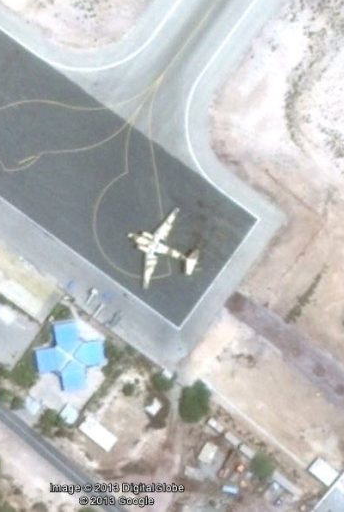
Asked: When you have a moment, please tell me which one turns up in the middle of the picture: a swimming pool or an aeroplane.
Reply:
aeroplane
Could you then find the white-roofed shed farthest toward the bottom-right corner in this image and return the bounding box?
[309,457,340,487]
